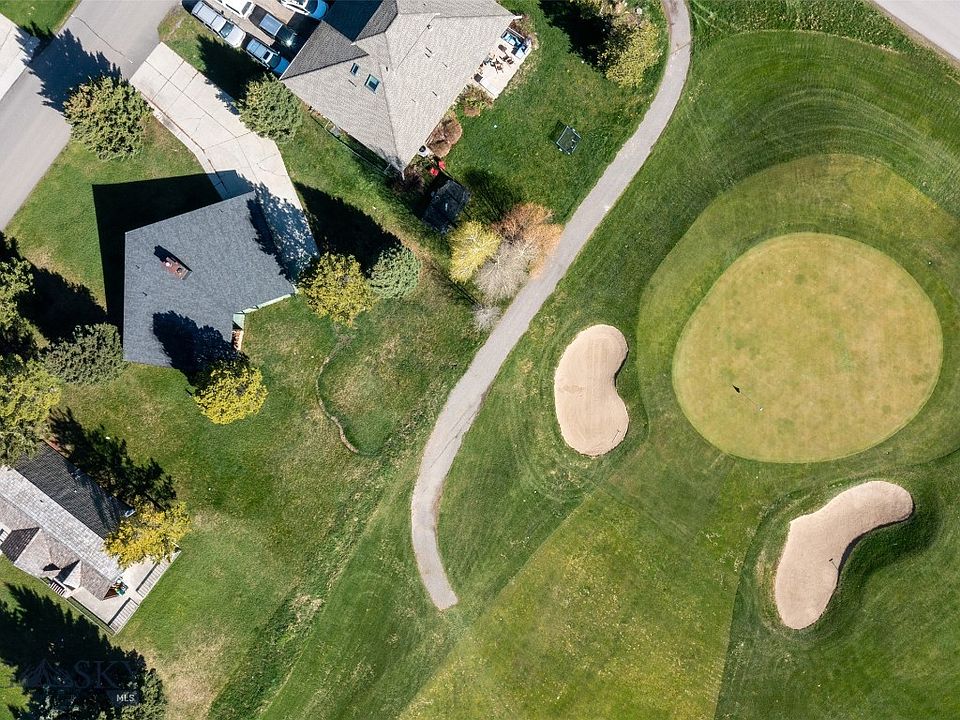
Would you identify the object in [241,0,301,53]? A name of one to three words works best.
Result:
truck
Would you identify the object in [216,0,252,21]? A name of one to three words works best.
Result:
car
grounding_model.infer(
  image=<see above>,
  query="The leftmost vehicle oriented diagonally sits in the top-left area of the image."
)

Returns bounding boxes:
[188,0,248,51]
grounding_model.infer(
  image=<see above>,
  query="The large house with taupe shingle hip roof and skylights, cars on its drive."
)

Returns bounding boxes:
[279,0,523,172]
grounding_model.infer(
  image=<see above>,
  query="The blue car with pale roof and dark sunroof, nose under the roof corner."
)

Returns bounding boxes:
[242,35,291,79]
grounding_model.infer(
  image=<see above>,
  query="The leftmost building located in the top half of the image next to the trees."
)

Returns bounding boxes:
[123,190,302,372]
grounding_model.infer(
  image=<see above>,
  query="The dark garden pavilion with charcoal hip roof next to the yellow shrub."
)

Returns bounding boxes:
[421,180,472,234]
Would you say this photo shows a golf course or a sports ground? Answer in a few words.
golf course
